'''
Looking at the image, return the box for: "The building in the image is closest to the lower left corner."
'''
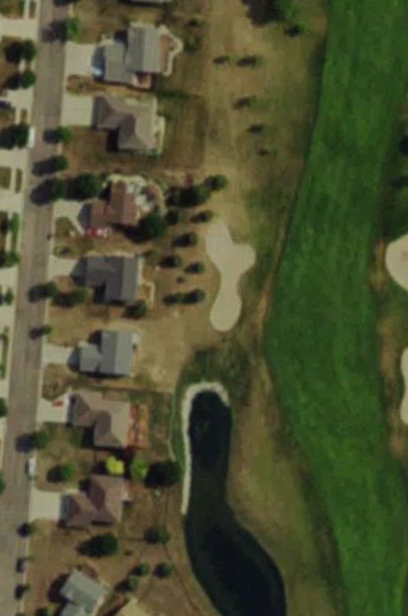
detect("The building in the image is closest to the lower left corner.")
[51,568,109,616]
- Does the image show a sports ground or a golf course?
golf course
